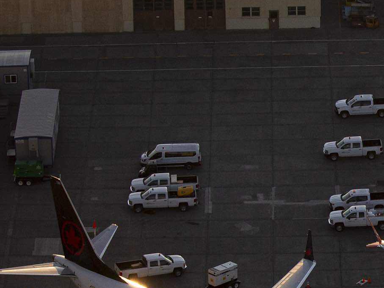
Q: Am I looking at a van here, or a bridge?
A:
van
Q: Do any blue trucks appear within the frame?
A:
No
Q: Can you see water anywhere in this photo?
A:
No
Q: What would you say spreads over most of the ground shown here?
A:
paved ground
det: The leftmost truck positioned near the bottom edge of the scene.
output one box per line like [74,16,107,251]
[115,252,188,282]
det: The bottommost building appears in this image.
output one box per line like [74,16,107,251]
[14,86,60,166]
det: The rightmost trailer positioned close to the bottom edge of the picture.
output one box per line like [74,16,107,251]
[196,259,243,288]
